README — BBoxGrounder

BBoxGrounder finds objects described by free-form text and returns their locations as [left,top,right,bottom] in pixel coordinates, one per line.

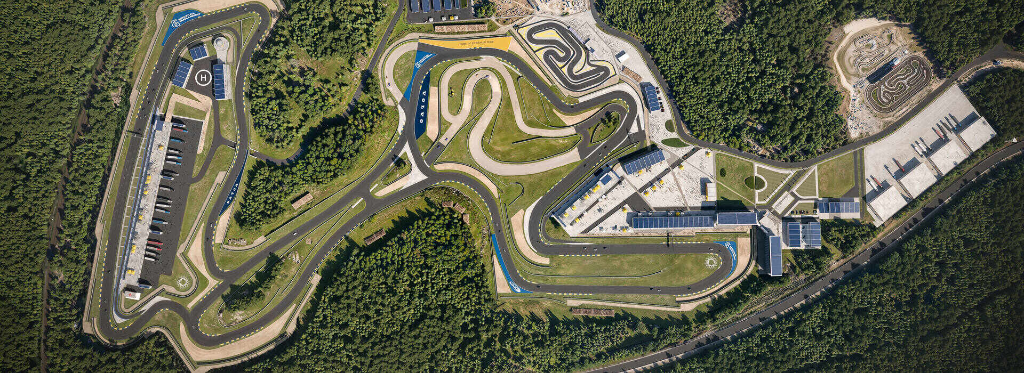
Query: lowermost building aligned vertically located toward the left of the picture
[125,121,173,286]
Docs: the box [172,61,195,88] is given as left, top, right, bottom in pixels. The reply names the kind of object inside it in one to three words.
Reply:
shed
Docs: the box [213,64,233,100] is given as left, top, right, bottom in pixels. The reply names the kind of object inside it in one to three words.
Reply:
shed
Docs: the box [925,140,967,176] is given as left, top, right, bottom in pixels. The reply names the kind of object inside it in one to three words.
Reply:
building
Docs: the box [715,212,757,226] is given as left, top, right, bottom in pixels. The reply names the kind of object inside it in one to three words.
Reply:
building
